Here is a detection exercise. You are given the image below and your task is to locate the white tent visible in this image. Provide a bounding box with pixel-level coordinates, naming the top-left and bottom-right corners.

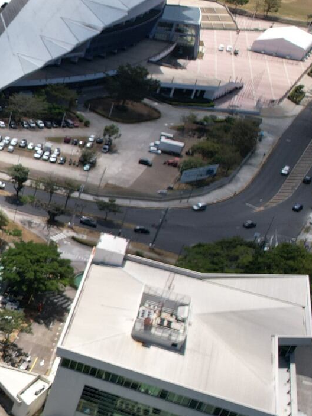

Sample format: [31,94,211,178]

[251,22,312,60]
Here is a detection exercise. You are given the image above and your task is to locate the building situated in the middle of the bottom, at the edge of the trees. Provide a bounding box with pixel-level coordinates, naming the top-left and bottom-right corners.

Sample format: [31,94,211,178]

[41,234,312,416]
